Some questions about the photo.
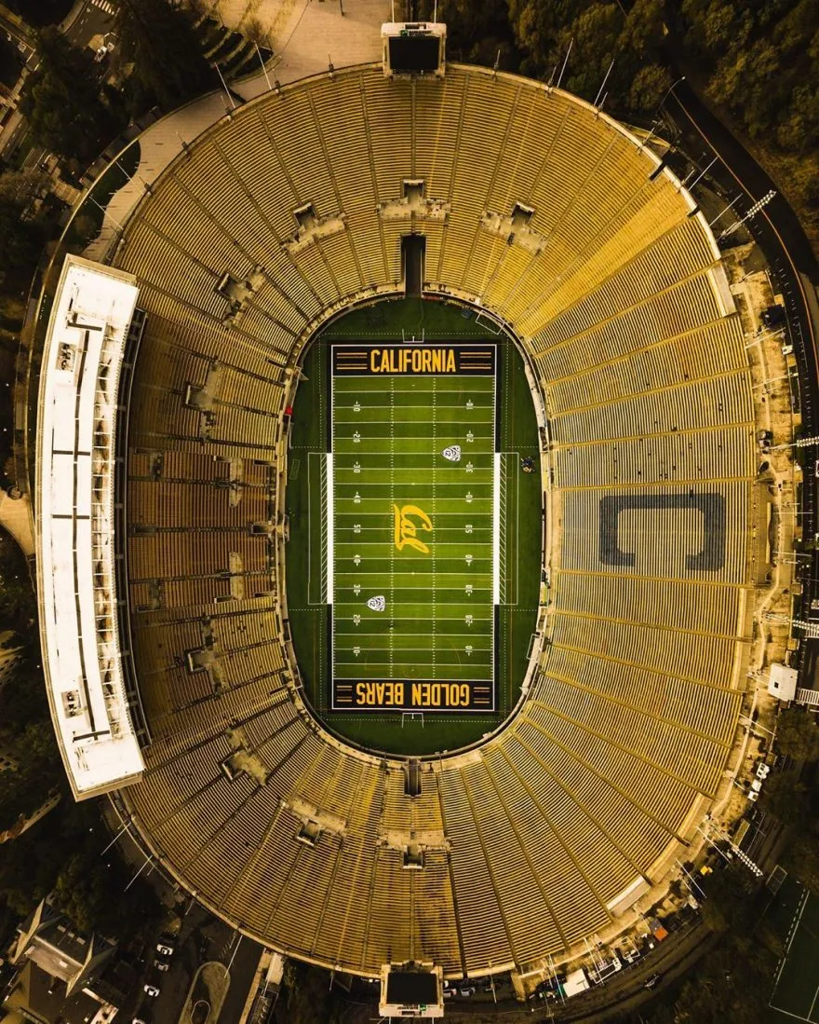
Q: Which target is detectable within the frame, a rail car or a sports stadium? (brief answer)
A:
sports stadium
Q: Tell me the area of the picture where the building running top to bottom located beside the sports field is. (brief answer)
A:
left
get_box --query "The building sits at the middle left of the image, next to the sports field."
[35,257,149,802]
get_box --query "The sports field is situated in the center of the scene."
[283,296,544,756]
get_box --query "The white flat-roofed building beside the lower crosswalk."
[769,664,807,706]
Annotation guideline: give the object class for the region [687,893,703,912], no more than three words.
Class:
vehicle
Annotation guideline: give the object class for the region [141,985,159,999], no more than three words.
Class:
car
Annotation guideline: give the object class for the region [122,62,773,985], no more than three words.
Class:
stadium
